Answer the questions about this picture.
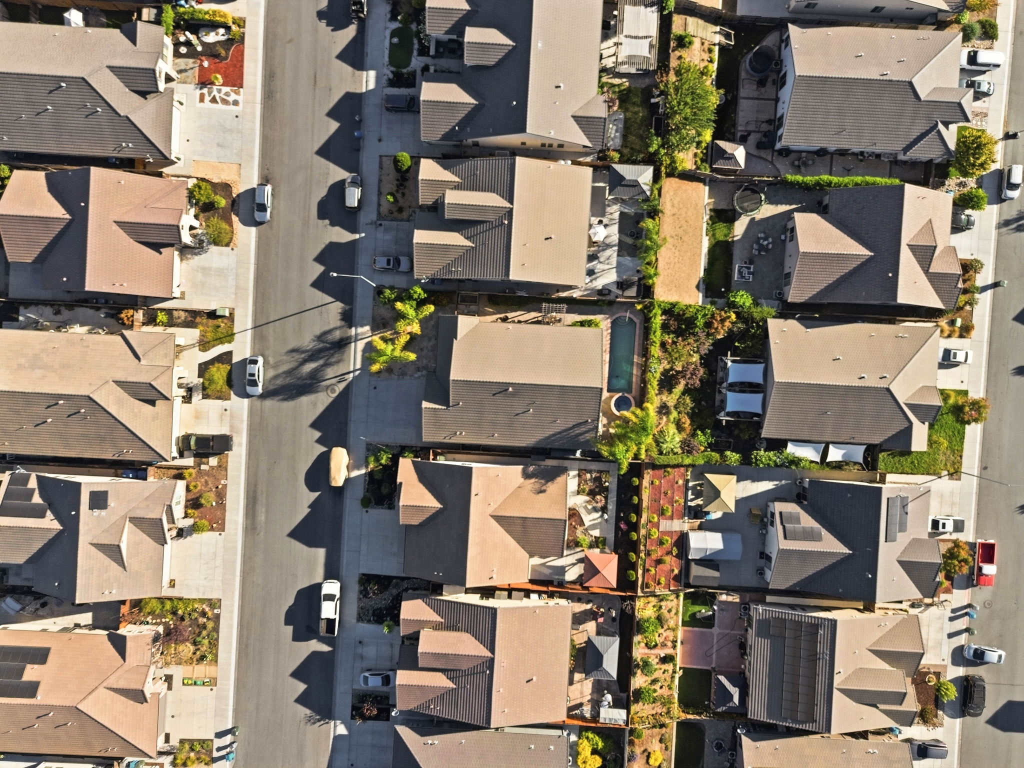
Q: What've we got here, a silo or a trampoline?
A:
trampoline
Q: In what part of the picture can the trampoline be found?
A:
top right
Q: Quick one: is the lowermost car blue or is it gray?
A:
gray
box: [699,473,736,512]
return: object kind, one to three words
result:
gazebo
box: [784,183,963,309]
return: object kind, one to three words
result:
house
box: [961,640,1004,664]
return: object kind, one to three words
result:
car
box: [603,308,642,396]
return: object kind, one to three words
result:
swimming pool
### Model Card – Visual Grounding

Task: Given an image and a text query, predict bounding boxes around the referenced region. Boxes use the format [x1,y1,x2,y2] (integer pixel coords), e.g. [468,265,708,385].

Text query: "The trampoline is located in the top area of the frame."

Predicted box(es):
[732,178,772,216]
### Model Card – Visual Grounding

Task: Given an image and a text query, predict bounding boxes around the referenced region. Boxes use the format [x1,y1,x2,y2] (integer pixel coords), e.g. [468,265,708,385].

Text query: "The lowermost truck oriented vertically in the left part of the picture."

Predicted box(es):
[319,580,342,637]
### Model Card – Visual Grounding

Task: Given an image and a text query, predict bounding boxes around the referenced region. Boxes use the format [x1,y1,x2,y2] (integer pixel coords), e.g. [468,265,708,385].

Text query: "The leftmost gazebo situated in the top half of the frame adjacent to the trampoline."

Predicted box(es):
[714,141,745,169]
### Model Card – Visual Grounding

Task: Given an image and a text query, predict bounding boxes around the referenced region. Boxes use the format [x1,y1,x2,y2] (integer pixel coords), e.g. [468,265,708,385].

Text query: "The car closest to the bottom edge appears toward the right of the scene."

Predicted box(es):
[910,738,951,760]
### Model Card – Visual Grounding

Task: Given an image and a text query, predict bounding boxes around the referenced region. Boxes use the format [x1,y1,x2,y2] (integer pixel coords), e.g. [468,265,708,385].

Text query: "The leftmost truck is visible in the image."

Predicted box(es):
[177,434,234,455]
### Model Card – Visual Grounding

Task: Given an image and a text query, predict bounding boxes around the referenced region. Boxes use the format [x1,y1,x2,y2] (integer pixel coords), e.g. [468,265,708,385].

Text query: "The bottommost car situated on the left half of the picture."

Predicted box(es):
[359,668,398,690]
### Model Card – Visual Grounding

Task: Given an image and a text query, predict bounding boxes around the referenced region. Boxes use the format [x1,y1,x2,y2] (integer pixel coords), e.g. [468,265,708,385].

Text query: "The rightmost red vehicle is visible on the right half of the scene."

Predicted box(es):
[972,539,999,585]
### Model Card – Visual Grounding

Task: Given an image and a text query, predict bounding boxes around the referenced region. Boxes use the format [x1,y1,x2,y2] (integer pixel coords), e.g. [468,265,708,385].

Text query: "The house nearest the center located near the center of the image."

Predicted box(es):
[422,315,602,450]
